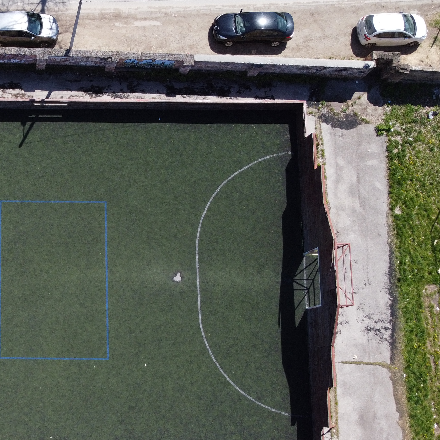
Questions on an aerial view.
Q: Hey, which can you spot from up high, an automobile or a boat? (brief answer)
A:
automobile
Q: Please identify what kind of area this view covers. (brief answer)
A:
sports ground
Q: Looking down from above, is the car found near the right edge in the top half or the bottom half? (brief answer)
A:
top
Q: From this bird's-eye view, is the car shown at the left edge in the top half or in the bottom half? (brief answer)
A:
top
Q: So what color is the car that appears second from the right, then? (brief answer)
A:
black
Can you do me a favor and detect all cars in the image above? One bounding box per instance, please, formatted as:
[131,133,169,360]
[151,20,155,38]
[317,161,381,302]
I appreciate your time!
[0,9,56,48]
[212,7,295,47]
[355,8,426,47]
